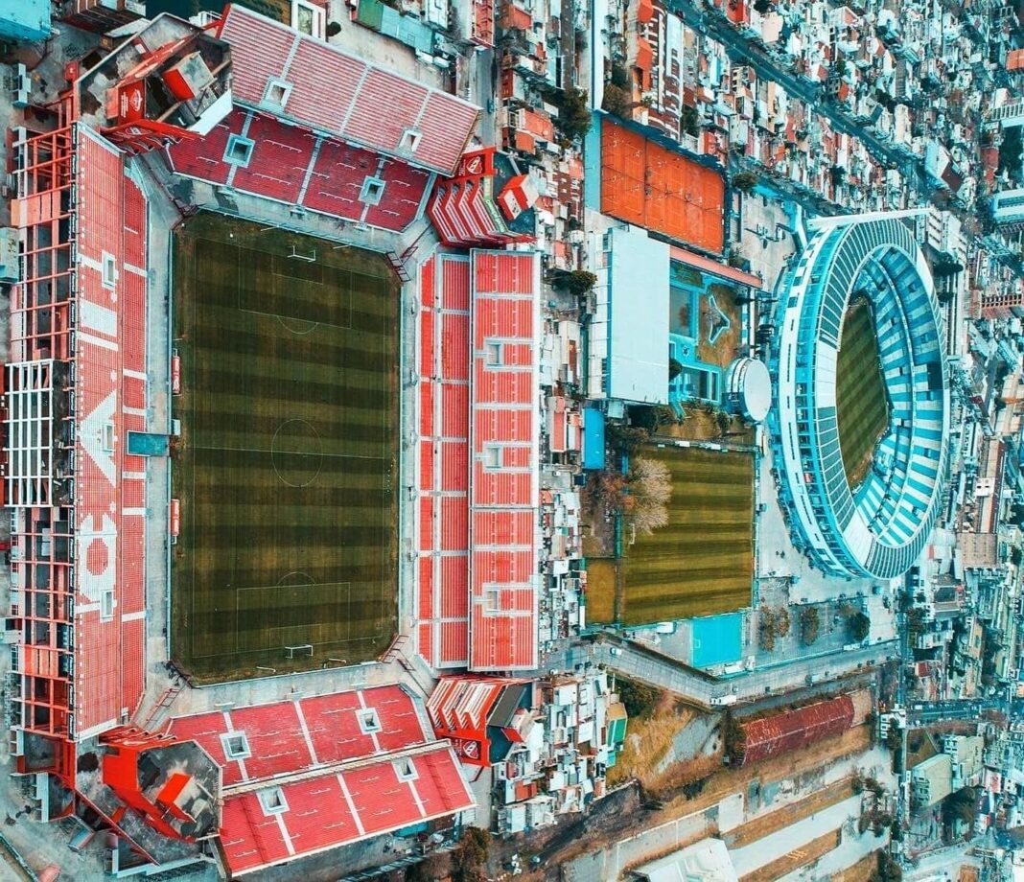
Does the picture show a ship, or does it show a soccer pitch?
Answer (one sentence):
There is a soccer pitch in the scene.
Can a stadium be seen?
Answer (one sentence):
Yes, this view includes a stadium.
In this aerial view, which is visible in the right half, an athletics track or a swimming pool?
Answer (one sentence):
The feature located in the right half is a swimming pool.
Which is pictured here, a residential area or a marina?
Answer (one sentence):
It's a residential area.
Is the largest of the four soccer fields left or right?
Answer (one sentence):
The largest of the four soccer fields is on the left side of the image.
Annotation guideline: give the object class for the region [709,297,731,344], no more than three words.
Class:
swimming pool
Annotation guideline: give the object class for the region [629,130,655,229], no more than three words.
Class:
tennis court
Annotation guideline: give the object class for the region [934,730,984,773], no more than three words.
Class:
building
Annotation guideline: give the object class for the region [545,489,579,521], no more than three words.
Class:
house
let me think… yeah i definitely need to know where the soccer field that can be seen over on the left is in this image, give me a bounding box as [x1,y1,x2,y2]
[174,209,401,684]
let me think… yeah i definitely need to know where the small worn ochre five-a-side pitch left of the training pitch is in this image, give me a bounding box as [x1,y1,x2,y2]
[588,559,615,622]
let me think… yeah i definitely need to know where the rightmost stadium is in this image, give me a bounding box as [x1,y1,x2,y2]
[764,208,950,578]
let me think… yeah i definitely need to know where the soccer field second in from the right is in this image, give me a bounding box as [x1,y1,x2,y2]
[620,448,754,624]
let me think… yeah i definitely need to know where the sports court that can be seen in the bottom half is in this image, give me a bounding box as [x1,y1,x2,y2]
[692,614,743,668]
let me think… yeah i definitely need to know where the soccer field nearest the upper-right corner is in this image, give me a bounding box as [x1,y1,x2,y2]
[838,297,891,475]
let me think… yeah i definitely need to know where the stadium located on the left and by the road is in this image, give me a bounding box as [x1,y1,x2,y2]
[0,5,547,882]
